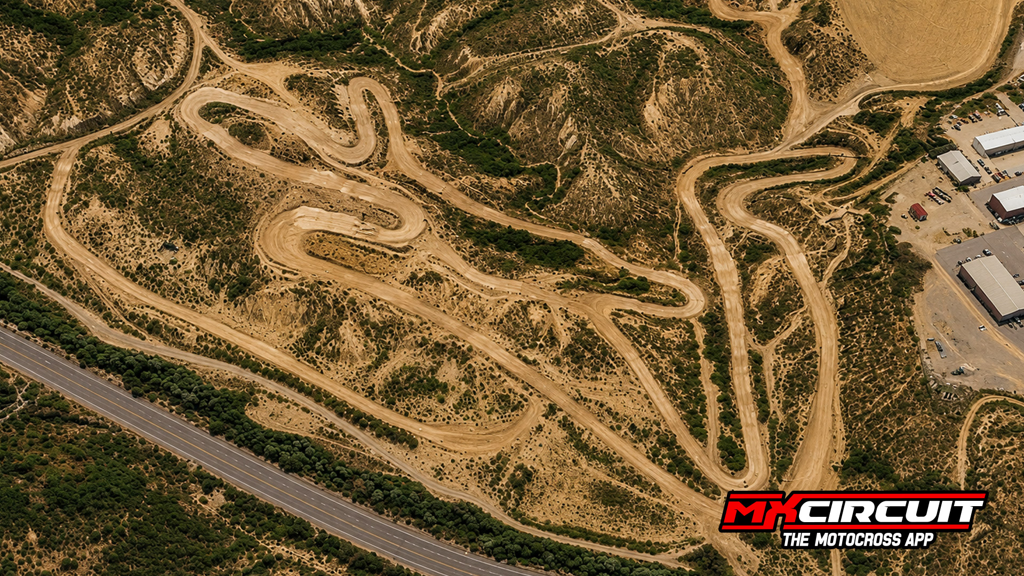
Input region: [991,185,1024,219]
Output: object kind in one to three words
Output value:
building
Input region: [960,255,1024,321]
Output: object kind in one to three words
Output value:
building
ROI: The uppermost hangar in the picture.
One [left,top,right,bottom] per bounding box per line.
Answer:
[973,125,1024,158]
